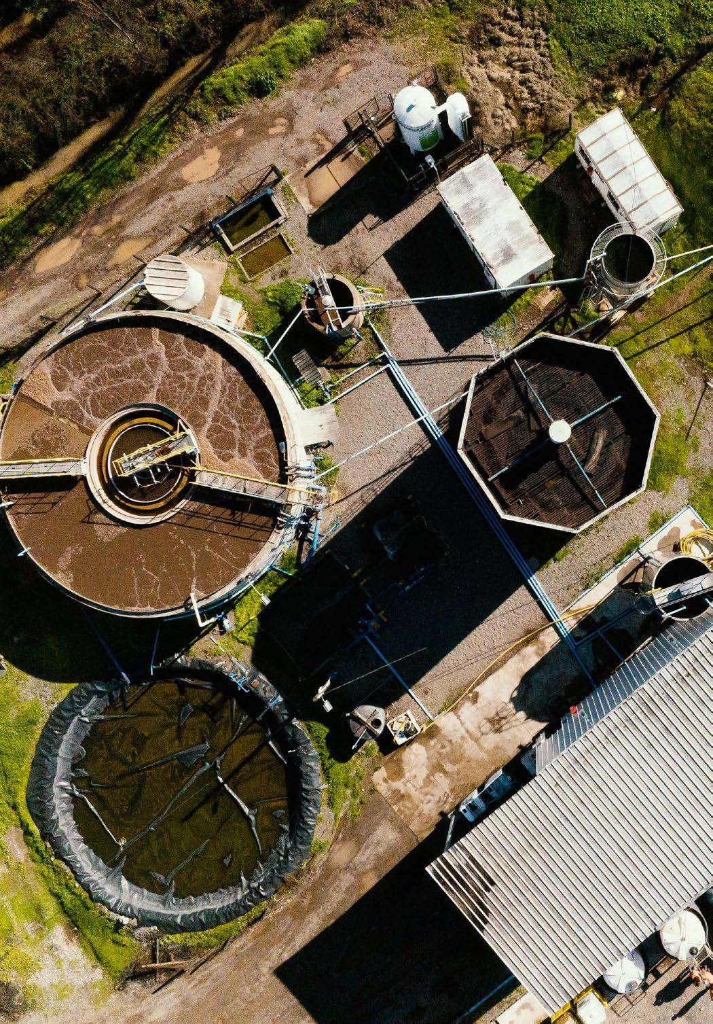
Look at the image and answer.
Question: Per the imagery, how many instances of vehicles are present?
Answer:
2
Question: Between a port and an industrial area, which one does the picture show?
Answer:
industrial area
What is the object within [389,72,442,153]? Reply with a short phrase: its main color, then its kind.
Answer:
white storage tank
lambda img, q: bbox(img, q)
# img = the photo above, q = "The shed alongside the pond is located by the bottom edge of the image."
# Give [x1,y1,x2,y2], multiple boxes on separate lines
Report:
[426,631,713,1020]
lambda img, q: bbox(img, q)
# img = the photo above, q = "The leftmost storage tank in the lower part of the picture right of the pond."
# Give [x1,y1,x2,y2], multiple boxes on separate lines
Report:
[347,701,388,749]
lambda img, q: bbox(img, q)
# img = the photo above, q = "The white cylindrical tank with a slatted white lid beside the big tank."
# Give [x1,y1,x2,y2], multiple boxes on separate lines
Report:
[147,257,202,309]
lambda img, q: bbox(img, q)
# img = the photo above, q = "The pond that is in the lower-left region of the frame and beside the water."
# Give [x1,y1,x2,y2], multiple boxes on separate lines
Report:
[26,655,320,933]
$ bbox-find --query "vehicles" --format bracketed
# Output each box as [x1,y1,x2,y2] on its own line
[518,745,538,779]
[455,770,523,834]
